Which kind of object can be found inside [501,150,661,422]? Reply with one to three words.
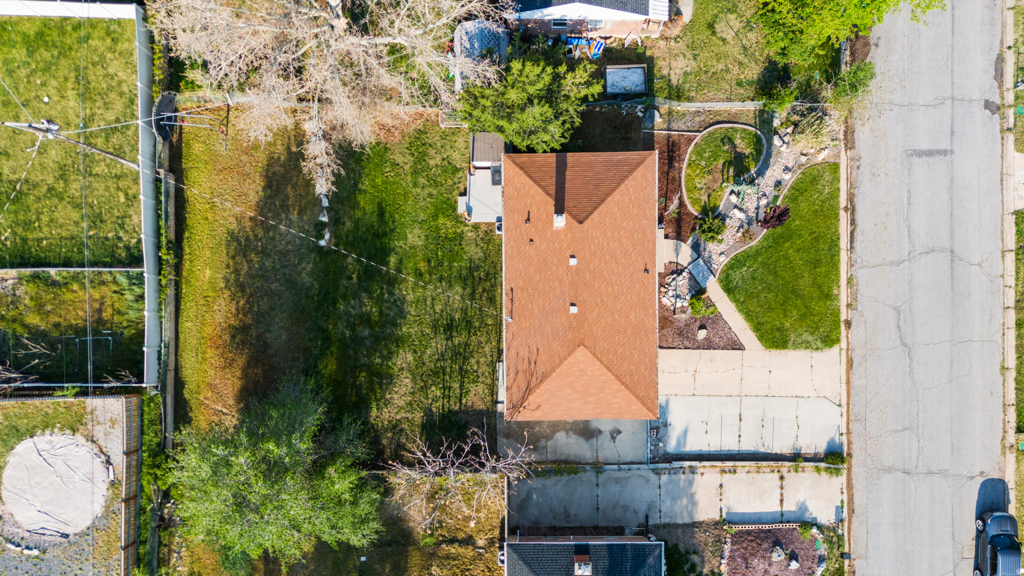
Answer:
house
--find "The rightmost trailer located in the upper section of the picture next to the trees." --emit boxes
[603,61,665,102]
